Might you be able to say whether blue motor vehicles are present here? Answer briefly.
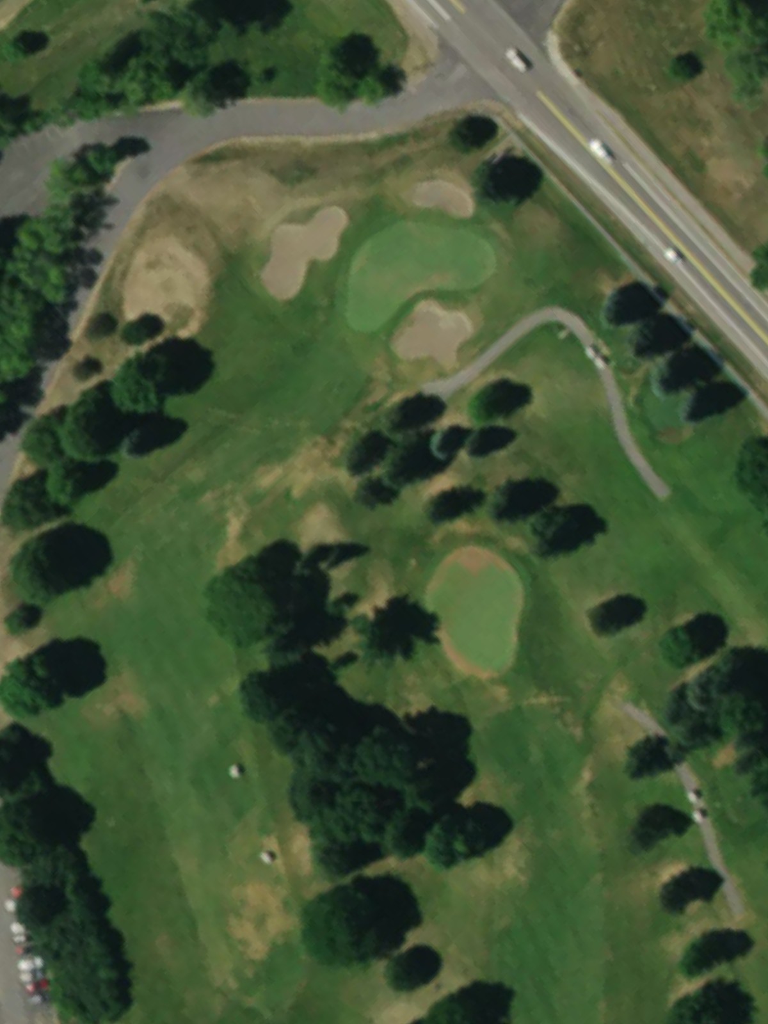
No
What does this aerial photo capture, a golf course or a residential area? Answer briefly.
golf course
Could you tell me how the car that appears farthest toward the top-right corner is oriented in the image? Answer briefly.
at an angle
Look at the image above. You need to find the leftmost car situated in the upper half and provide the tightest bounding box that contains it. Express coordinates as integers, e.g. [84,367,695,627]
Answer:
[505,49,527,72]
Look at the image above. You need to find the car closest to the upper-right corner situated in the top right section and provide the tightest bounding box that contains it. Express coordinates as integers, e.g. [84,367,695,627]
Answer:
[590,139,612,161]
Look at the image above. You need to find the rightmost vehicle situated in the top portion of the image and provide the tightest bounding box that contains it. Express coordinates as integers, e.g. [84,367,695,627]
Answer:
[662,245,681,265]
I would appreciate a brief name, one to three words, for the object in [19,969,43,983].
car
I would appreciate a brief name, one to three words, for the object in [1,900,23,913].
vehicle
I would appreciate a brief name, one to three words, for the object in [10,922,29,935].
vehicle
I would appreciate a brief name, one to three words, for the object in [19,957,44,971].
car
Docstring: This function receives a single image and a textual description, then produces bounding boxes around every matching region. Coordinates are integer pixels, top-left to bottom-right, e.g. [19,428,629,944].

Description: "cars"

[19,969,43,983]
[12,932,33,945]
[505,49,527,72]
[10,922,29,935]
[662,245,681,265]
[590,139,612,161]
[28,992,53,1006]
[1,900,23,913]
[19,957,44,971]
[24,980,48,993]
